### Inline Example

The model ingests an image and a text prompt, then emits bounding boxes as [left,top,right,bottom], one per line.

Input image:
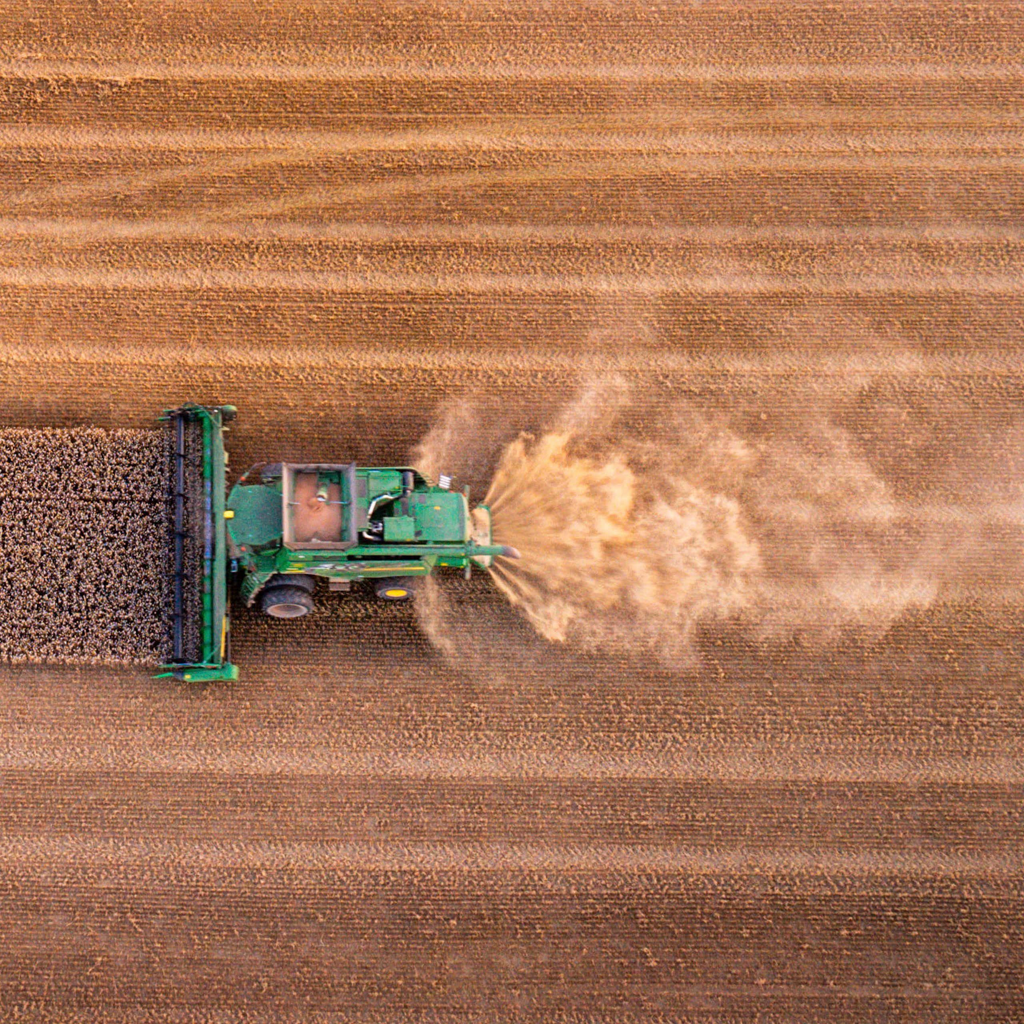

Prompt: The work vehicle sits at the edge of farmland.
[152,402,521,685]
